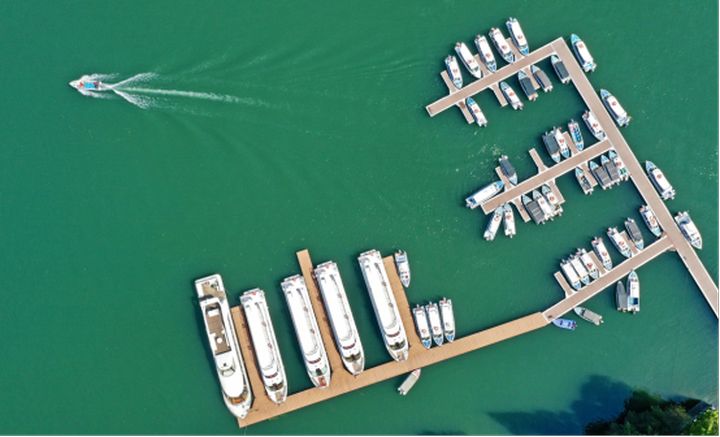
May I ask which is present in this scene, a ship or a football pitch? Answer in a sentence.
Looking from above, you can make out a ship.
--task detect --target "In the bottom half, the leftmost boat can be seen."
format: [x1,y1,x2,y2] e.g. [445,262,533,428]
[197,274,250,420]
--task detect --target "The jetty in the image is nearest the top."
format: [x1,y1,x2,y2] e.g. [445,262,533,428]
[426,37,553,124]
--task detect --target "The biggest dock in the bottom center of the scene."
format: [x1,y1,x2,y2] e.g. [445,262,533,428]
[231,248,551,429]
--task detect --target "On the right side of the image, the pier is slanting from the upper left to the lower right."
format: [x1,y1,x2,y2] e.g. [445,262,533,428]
[551,38,720,322]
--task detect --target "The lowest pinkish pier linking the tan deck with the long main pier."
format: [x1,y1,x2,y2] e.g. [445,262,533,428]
[544,230,676,322]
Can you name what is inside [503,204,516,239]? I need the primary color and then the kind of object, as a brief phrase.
white boat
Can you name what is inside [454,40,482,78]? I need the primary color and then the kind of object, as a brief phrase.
white boat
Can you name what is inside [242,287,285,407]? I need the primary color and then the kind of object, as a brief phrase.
white ship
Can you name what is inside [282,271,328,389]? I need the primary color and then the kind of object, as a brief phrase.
white ship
